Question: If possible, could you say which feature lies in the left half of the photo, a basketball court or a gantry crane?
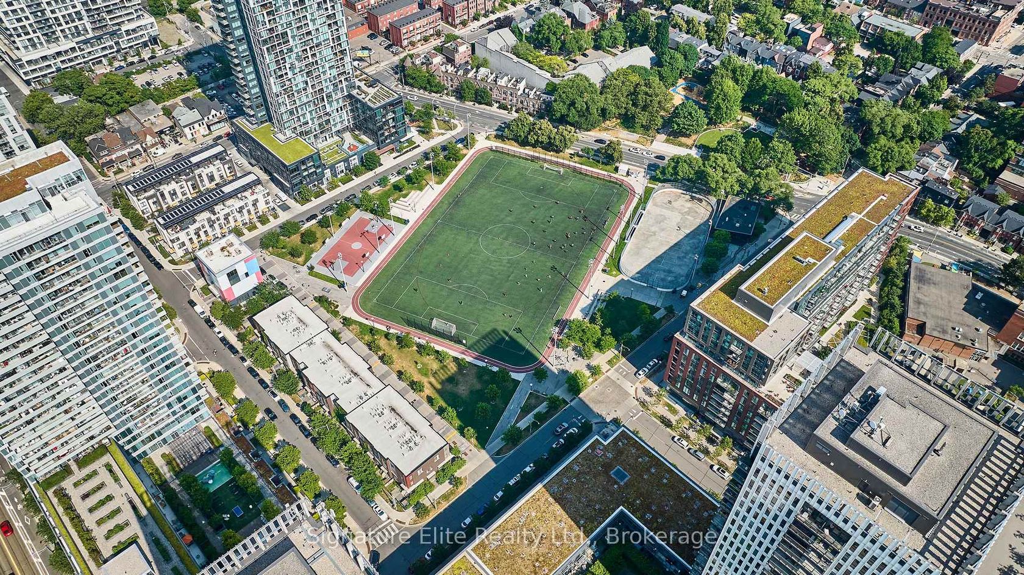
basketball court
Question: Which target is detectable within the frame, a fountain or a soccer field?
soccer field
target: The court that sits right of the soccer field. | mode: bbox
[621,182,714,290]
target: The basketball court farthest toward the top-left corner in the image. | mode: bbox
[305,209,407,285]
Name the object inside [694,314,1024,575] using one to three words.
building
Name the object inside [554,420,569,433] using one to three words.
vehicle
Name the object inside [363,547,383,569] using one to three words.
vehicle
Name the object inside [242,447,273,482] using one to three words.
house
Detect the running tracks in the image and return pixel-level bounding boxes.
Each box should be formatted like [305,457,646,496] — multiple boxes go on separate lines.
[354,147,634,372]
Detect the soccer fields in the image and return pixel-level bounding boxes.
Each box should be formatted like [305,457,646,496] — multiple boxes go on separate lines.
[361,150,628,365]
